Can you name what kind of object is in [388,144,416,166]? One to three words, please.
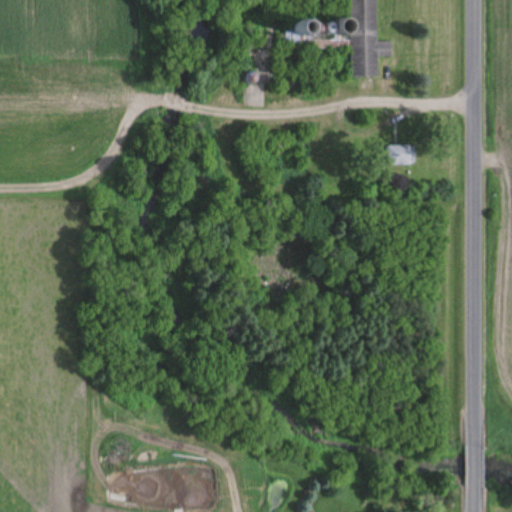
house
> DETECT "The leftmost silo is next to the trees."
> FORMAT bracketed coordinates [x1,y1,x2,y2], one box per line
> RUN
[296,20,324,36]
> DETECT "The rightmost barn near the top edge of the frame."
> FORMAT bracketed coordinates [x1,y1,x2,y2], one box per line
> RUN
[352,0,394,76]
